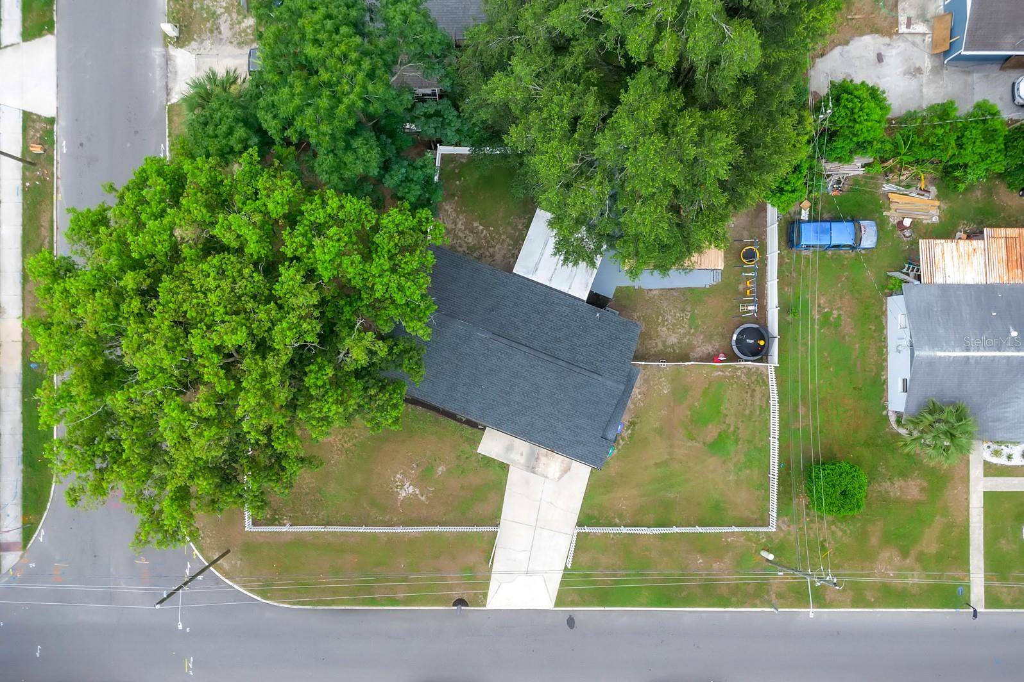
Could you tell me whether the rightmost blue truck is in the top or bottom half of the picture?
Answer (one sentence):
It is in the top half that the rightmost blue truck appears.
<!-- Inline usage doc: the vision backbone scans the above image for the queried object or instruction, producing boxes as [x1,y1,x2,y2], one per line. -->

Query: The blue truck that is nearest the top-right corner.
[786,216,877,252]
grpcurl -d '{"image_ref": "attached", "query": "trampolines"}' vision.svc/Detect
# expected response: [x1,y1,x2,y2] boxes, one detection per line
[740,246,760,265]
[729,321,774,361]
